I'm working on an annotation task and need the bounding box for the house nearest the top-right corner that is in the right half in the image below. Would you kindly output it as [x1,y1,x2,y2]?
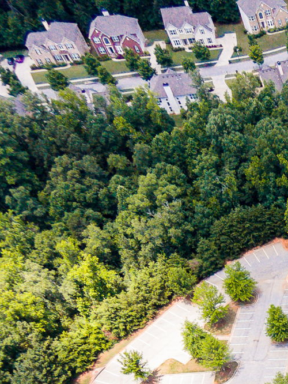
[237,0,288,33]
